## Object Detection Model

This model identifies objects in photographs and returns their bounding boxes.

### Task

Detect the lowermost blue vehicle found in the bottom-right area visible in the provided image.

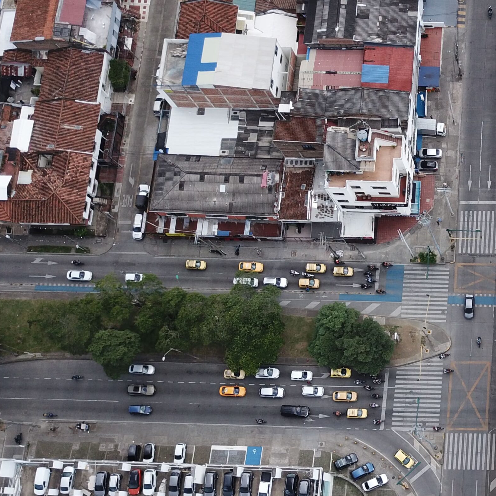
[348,461,377,483]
